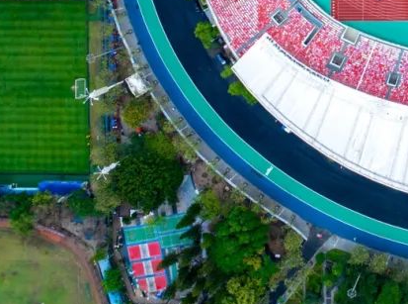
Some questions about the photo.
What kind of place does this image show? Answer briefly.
sports ground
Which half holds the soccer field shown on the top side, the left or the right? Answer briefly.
left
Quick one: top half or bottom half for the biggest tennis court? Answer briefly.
bottom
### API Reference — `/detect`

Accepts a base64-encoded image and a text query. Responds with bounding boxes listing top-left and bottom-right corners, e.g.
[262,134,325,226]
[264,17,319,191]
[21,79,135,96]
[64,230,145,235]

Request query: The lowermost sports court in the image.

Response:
[136,274,170,294]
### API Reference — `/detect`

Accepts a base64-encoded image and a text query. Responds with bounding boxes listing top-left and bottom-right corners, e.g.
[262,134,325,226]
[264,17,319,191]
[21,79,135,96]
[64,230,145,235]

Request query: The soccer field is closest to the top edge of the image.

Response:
[0,0,100,184]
